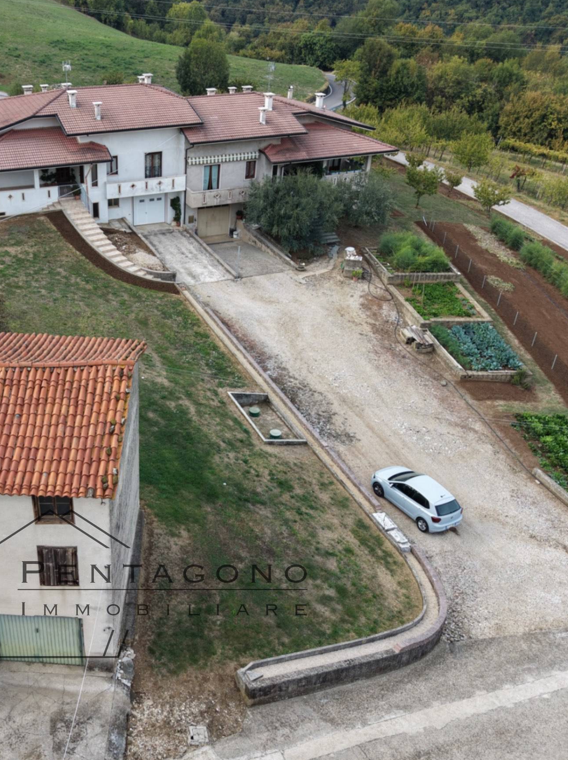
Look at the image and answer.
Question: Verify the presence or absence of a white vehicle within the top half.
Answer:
No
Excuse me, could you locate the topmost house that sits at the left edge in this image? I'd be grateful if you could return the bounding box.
[0,44,204,231]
